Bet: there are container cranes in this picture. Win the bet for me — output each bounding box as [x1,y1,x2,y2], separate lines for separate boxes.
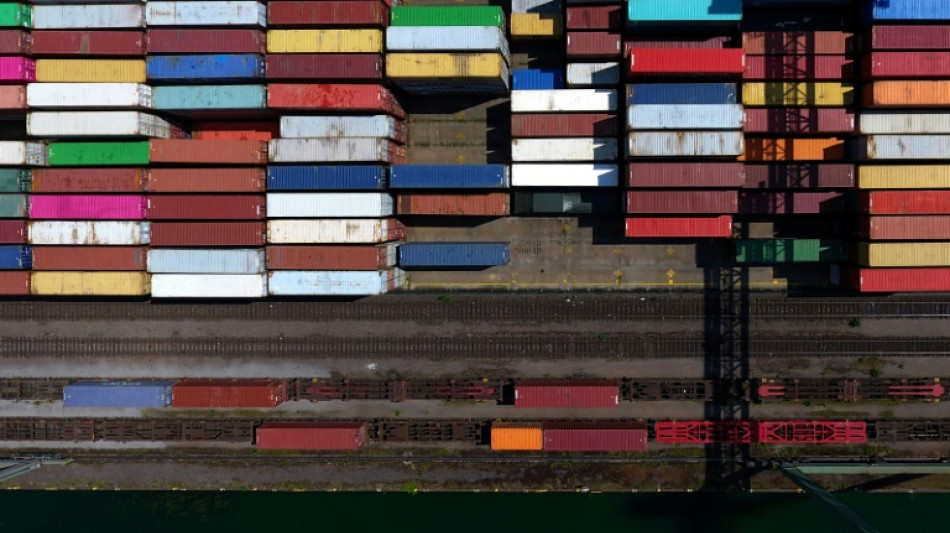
[0,451,65,482]
[760,451,950,533]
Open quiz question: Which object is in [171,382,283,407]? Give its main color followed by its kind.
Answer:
red shipping container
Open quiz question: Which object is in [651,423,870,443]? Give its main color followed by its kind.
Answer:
red rail car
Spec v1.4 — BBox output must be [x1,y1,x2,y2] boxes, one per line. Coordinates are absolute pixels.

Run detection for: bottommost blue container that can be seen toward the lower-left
[62,382,177,407]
